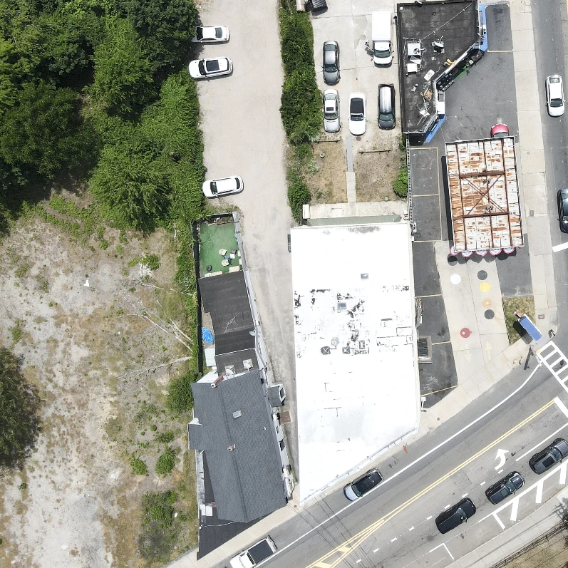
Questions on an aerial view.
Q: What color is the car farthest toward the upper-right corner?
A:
white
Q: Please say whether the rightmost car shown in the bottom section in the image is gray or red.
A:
gray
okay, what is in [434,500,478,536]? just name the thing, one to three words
car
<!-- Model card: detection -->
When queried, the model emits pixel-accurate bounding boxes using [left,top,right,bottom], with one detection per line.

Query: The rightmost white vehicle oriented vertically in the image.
[546,75,568,117]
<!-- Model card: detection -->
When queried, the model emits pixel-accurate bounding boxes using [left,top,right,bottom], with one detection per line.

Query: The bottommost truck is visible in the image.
[229,534,281,568]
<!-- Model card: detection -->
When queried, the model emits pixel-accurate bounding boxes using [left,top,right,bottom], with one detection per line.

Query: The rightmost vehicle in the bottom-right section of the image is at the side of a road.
[527,439,568,475]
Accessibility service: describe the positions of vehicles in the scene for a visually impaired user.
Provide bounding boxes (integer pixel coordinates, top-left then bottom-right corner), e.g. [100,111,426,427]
[546,75,568,117]
[364,5,395,68]
[203,175,245,197]
[322,40,341,86]
[192,23,231,45]
[229,534,281,568]
[527,439,568,475]
[557,188,568,234]
[347,92,368,137]
[188,56,234,78]
[376,82,398,131]
[322,88,341,134]
[484,471,526,505]
[434,500,478,536]
[341,466,385,502]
